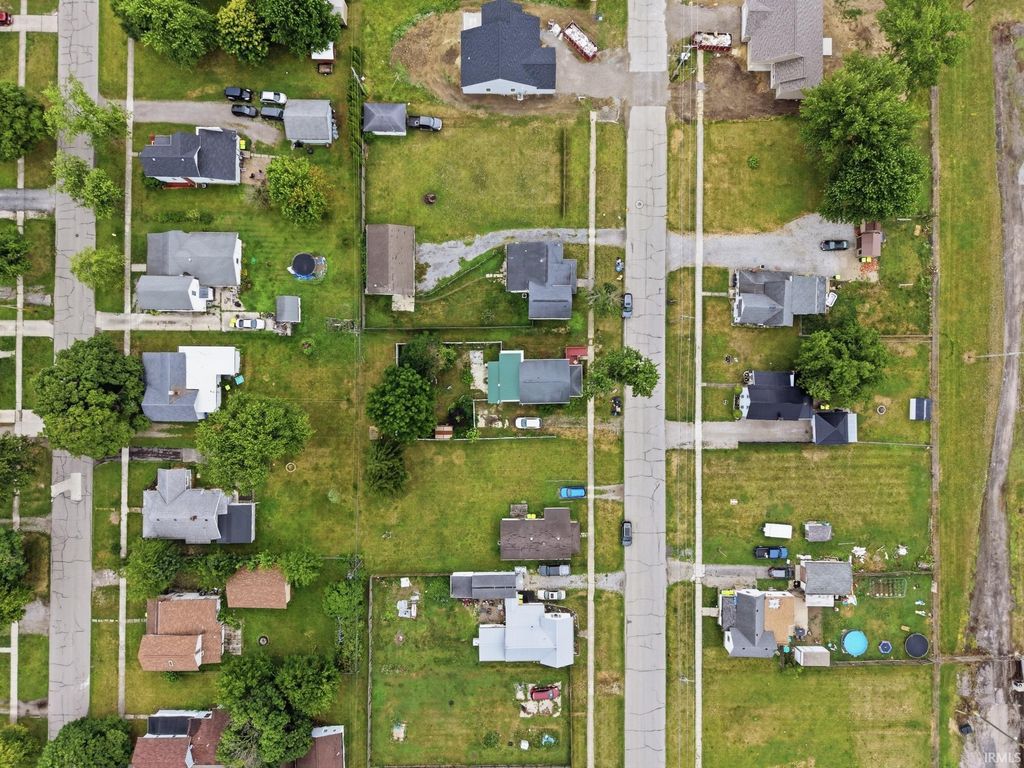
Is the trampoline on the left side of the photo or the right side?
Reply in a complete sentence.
You can find the trampoline on the right side of the picture.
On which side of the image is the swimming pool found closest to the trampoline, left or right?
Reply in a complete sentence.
The swimming pool found closest to the trampoline appears in the right half of the scene.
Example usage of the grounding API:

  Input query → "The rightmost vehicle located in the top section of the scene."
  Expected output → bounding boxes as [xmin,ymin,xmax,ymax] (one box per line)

[819,238,849,252]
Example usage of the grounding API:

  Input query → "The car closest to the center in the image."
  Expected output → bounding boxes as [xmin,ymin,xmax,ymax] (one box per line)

[514,416,541,430]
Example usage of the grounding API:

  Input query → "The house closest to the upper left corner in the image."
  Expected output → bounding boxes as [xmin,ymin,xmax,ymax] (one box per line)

[136,128,243,190]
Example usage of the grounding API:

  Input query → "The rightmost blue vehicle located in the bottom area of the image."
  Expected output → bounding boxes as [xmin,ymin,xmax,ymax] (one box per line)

[754,546,788,561]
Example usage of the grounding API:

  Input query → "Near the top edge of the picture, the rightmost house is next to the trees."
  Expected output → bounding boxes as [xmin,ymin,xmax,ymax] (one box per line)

[740,0,833,96]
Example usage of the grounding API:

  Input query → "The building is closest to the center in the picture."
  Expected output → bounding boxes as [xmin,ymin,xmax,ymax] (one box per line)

[488,347,588,404]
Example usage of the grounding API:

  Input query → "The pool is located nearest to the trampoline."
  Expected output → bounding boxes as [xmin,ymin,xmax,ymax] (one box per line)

[838,629,869,657]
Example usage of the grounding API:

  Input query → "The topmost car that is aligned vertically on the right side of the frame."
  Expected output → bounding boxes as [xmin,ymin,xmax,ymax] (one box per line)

[620,292,634,320]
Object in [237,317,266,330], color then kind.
white vehicle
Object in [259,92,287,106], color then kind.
white car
